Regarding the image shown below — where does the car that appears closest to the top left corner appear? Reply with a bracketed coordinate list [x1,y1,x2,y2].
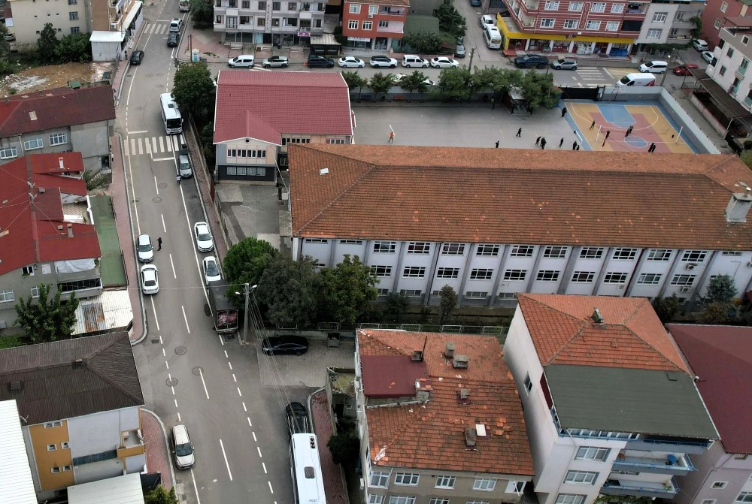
[131,49,145,63]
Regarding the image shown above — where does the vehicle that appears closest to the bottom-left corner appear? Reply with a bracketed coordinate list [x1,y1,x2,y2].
[171,423,196,470]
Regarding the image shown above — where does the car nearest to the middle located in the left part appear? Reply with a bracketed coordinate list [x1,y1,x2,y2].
[263,335,309,357]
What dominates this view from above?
buildings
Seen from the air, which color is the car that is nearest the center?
black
